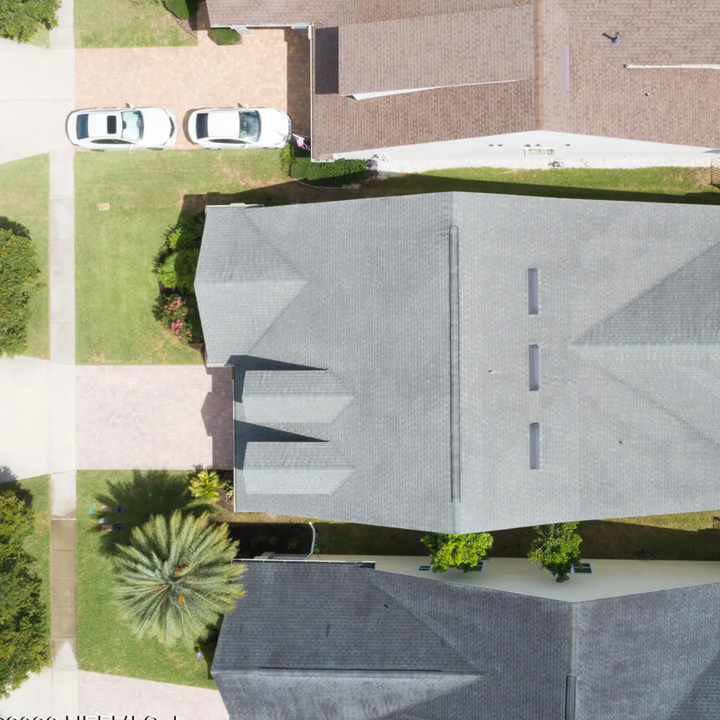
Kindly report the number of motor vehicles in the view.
2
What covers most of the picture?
buildings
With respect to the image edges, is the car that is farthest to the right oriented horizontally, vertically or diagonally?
horizontally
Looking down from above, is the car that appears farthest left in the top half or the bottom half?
top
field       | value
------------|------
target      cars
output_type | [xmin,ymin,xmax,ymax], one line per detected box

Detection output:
[187,106,293,151]
[68,106,179,151]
